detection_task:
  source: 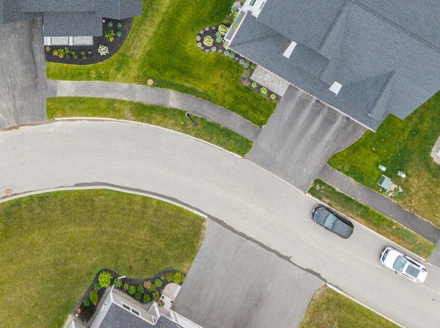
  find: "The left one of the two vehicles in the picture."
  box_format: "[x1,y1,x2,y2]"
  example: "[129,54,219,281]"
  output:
[309,204,357,243]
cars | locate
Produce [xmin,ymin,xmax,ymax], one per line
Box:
[309,204,357,243]
[379,248,431,286]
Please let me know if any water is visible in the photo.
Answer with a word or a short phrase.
No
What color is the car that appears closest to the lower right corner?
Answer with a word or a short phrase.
white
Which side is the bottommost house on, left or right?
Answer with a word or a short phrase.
left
